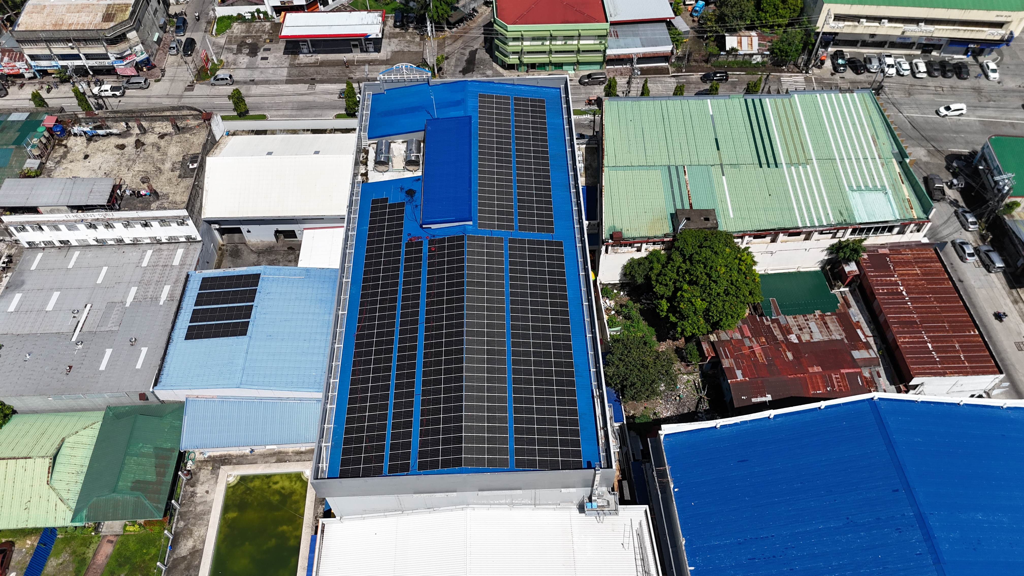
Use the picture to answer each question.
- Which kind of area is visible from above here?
industrial area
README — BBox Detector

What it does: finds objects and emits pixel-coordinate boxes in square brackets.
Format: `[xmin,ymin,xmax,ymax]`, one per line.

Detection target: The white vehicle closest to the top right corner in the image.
[981,62,999,80]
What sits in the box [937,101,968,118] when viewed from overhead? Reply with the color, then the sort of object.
white car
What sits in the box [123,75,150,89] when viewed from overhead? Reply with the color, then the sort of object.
gray car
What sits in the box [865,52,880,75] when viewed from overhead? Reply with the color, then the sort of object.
gray car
